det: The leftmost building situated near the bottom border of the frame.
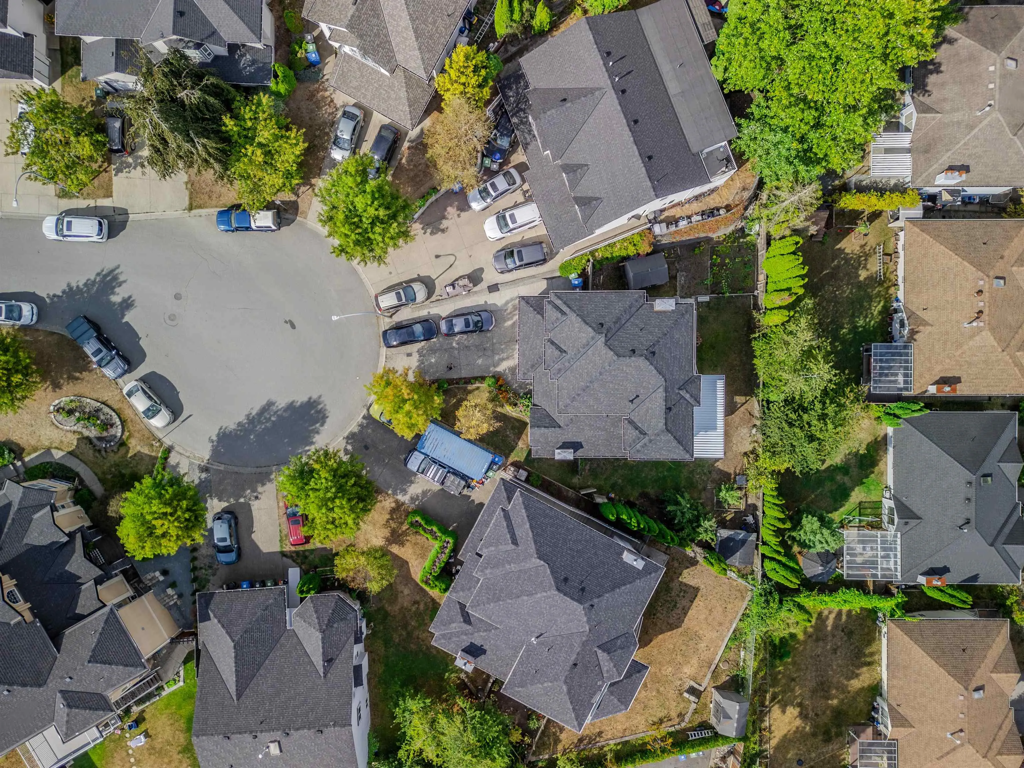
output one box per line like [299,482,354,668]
[0,474,153,756]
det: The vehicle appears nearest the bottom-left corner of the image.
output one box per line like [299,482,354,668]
[209,509,241,563]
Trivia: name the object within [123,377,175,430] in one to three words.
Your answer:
car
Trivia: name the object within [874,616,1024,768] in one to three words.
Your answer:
house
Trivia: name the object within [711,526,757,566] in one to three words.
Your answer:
shed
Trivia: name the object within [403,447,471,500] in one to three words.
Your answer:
truck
